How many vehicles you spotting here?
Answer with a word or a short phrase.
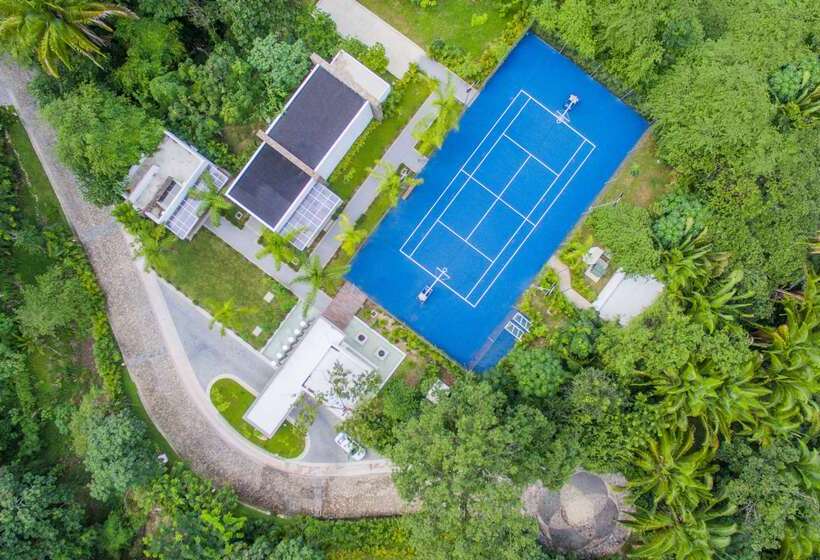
1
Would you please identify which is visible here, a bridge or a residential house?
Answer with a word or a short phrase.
residential house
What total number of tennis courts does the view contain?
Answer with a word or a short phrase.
1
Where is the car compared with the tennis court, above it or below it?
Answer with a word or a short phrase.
below it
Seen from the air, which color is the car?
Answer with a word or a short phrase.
white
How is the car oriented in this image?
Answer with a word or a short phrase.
at an angle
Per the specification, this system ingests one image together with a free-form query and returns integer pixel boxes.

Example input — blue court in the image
[348,34,645,379]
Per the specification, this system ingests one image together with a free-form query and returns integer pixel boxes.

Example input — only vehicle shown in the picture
[333,433,366,463]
